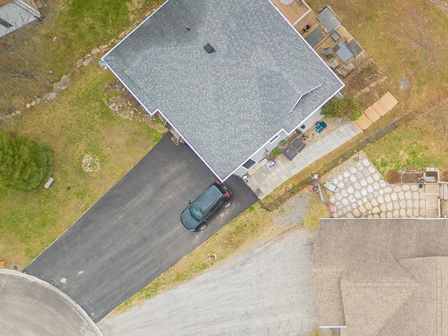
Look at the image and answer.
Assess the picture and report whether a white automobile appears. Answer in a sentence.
No, the photo shows no white automobile.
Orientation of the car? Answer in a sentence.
The car runs diagonally in the image.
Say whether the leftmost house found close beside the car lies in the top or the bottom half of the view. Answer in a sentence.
You can find the leftmost house found close beside the car in the top half.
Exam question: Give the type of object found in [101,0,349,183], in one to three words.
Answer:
house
